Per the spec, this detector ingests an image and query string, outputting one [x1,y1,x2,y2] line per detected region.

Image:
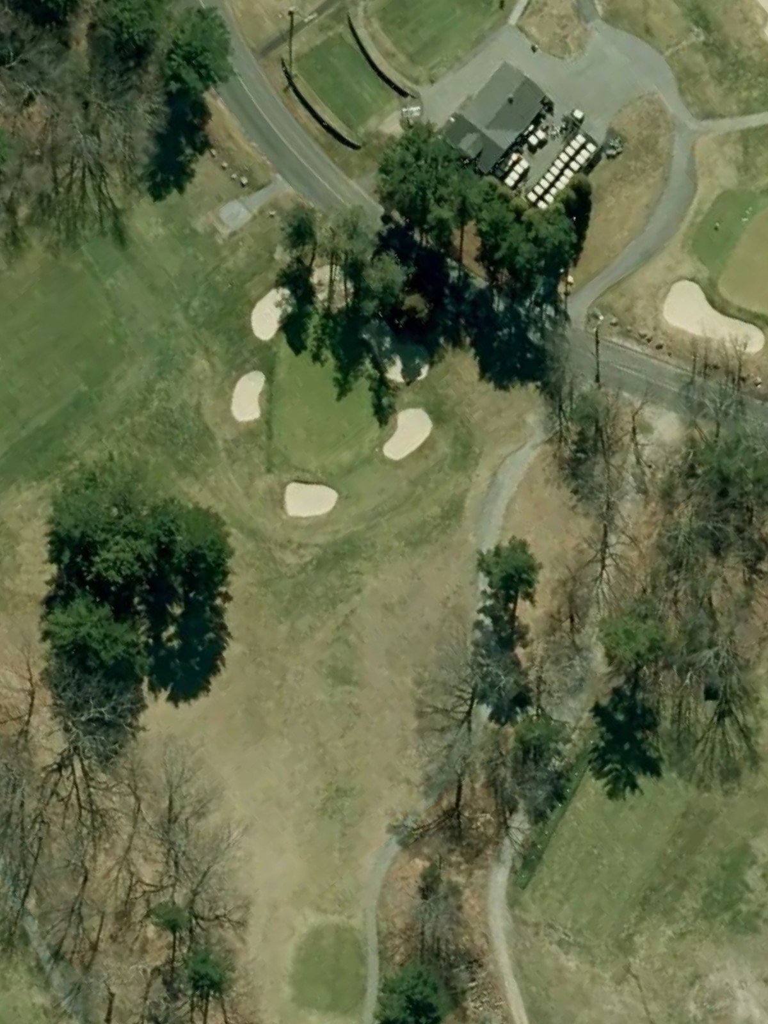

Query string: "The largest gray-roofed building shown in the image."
[440,62,547,166]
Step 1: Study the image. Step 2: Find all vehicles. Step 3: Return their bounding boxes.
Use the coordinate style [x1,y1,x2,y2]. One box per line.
[575,134,588,148]
[562,168,574,182]
[524,123,537,135]
[547,186,558,196]
[558,152,571,167]
[568,161,581,175]
[537,178,551,193]
[572,109,585,123]
[533,130,547,144]
[543,172,557,186]
[542,193,555,207]
[508,152,522,165]
[552,159,566,173]
[548,165,561,180]
[579,148,592,163]
[526,135,540,149]
[519,159,531,173]
[525,191,538,204]
[531,185,545,200]
[584,143,597,157]
[569,140,582,154]
[563,146,577,161]
[558,175,570,189]
[574,154,587,169]
[553,180,565,190]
